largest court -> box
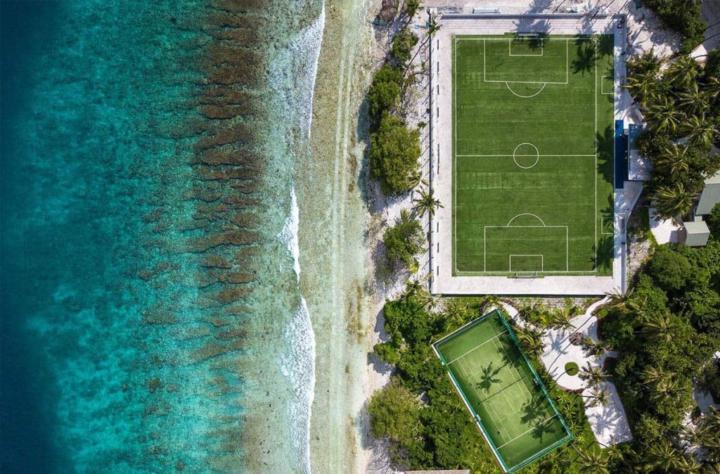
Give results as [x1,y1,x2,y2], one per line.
[438,312,569,472]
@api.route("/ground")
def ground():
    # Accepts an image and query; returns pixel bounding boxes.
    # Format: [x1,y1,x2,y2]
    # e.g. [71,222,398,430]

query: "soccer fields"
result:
[453,32,614,278]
